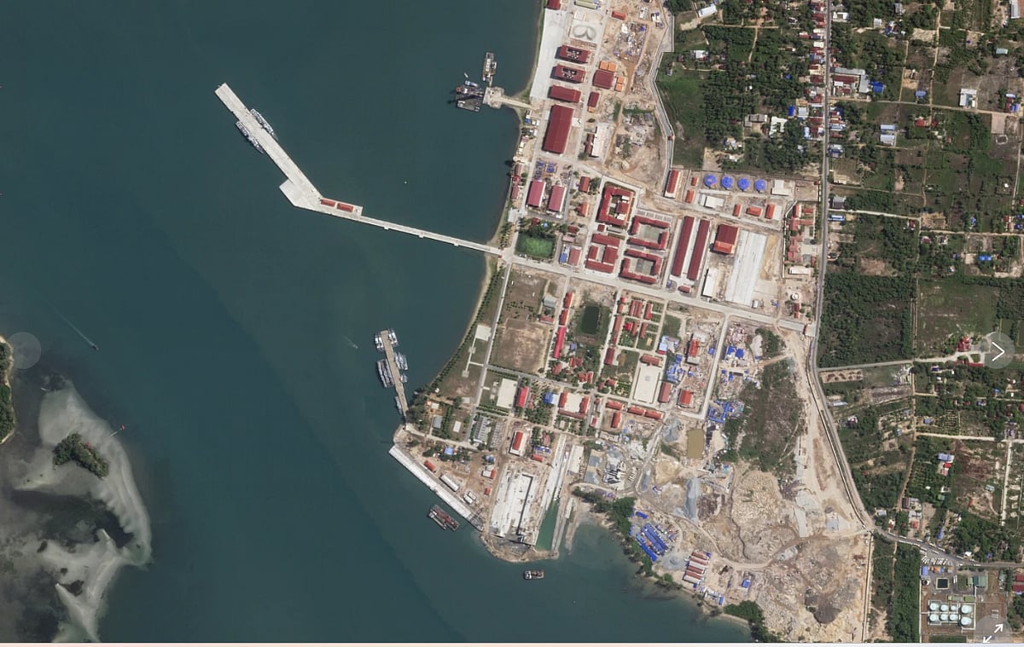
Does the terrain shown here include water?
Yes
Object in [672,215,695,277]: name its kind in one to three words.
shed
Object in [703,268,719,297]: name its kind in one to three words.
shed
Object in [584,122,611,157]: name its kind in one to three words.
building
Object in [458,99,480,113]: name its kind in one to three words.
ship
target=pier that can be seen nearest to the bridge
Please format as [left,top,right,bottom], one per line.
[215,82,363,220]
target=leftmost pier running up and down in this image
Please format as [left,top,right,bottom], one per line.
[381,330,409,424]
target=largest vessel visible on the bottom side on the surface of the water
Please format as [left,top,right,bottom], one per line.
[431,505,460,531]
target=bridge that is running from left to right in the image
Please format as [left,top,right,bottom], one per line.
[359,215,504,255]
